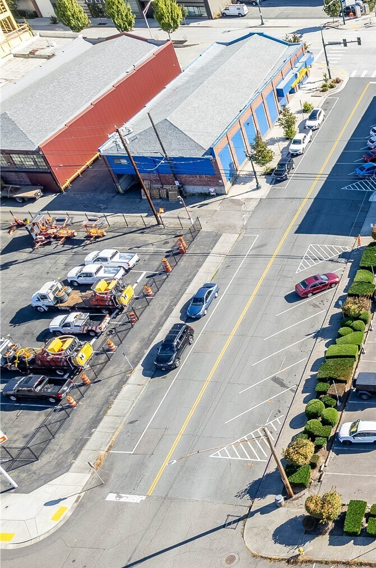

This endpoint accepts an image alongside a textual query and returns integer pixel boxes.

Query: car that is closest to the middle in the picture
[187,284,220,319]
